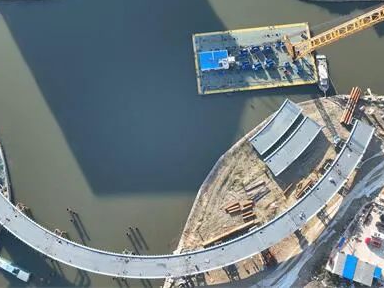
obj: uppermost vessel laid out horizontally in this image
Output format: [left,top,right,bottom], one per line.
[191,5,384,95]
